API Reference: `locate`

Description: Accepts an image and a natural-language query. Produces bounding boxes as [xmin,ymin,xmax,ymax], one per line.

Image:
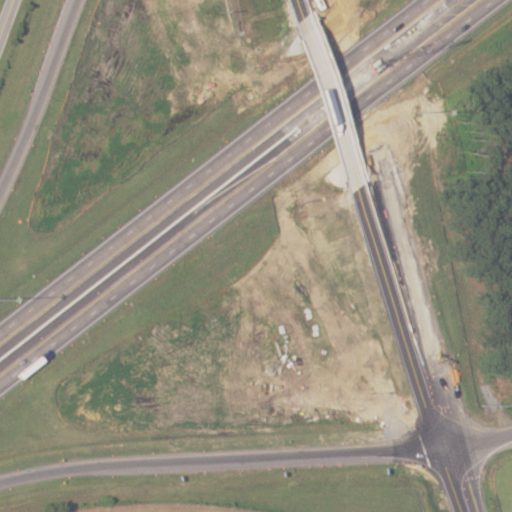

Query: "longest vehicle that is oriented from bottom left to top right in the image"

[19,352,56,380]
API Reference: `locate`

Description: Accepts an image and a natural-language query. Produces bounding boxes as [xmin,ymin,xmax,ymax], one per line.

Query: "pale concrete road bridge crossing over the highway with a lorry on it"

[296,10,372,192]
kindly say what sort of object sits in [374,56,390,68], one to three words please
vehicle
